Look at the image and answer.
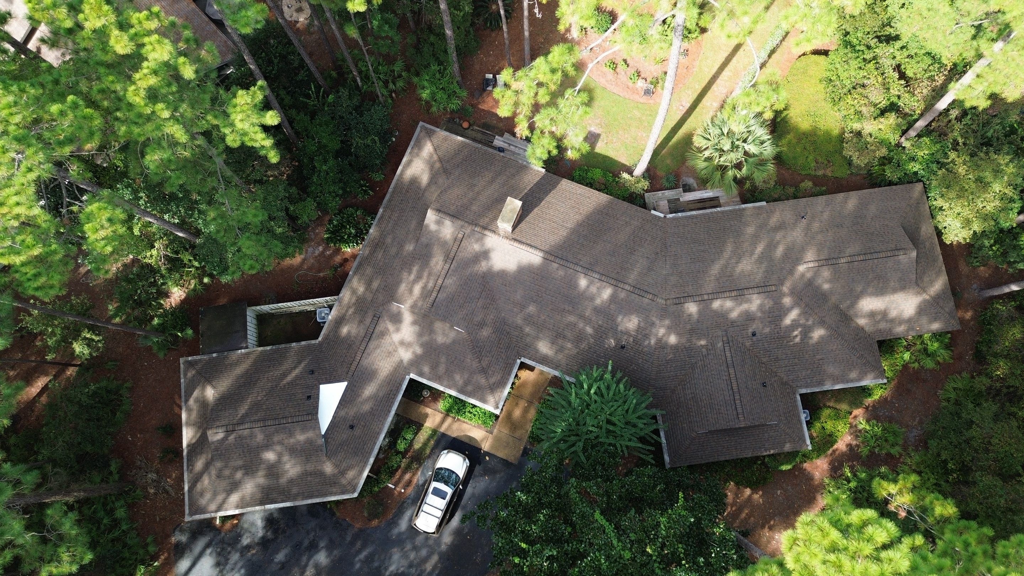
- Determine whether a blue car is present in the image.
No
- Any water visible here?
No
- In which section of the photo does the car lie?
bottom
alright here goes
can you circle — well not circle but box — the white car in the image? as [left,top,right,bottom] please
[410,447,472,541]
